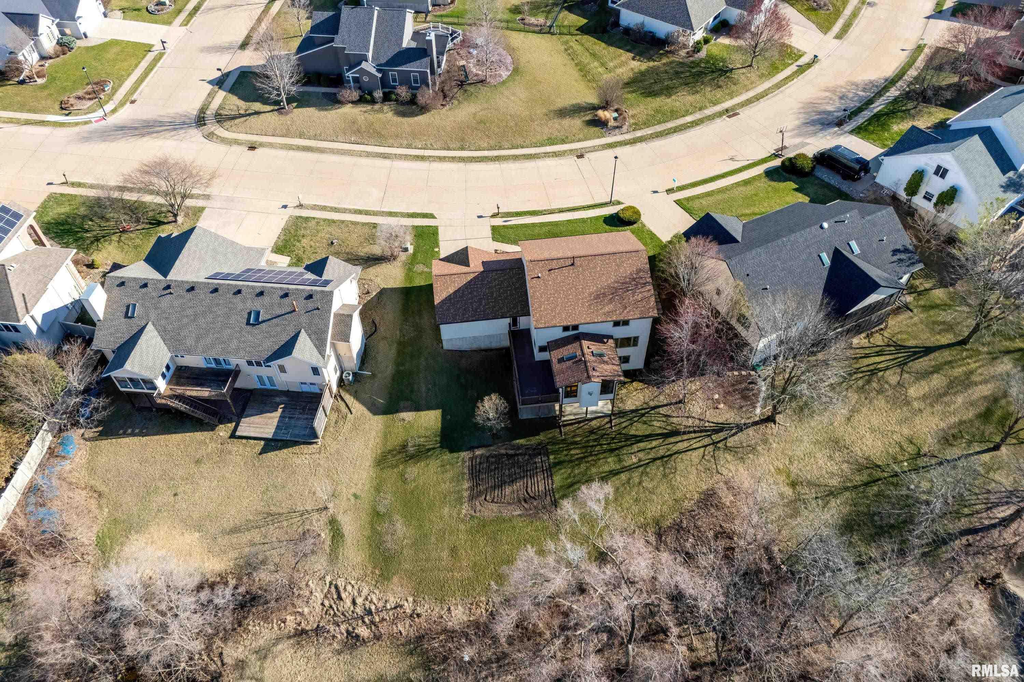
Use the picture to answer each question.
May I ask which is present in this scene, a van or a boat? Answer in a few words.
van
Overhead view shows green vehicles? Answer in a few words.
No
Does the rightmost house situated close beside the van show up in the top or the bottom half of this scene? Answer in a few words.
top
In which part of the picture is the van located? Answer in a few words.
top right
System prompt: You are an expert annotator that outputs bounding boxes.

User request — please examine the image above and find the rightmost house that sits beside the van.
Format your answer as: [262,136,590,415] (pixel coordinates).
[871,72,1024,248]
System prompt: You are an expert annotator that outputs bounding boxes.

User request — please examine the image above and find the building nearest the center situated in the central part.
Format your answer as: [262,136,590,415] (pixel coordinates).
[432,231,657,439]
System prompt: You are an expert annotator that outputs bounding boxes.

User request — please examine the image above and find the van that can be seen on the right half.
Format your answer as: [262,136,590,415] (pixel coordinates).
[816,143,873,177]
